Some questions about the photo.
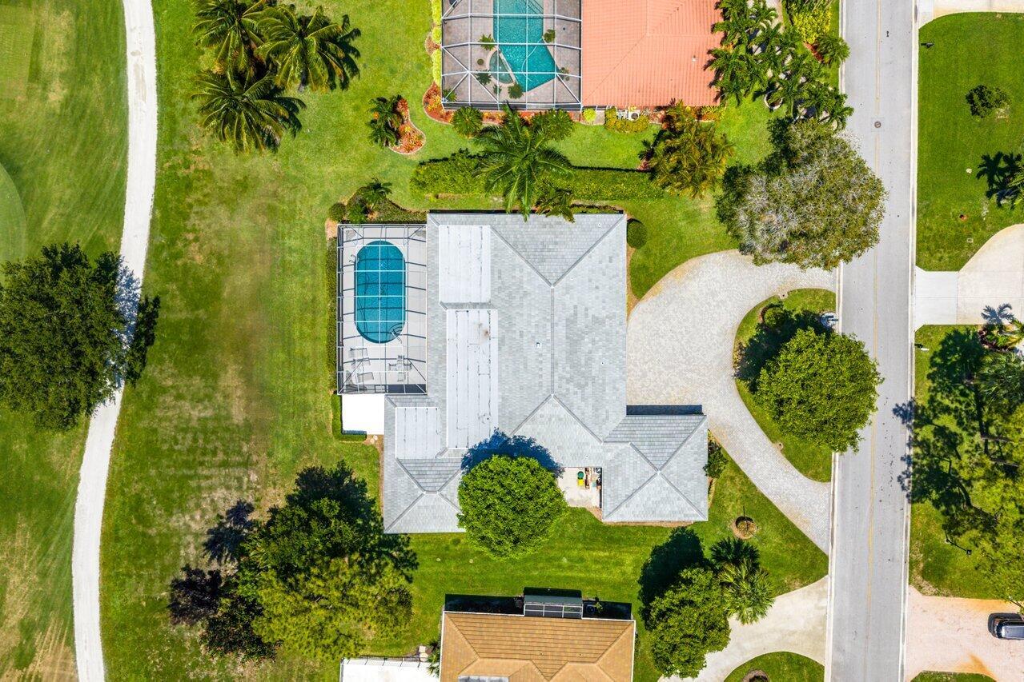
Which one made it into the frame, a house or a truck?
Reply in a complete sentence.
Of the two, only a house appears.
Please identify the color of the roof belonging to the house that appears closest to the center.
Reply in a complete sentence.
From above, the roof of the house that appears closest to the center looks white.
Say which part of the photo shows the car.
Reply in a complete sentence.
The car appears toward the bottom right of the photo.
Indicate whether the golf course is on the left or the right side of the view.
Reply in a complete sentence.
The golf course appears in the left half of the scene.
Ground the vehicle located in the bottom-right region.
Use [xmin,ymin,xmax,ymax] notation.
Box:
[993,616,1024,640]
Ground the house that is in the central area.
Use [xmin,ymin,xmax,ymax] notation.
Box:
[383,211,709,534]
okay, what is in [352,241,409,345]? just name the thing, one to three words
swimming pool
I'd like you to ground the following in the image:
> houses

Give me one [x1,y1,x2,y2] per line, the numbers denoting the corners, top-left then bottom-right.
[383,211,709,534]
[438,609,635,682]
[582,0,728,108]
